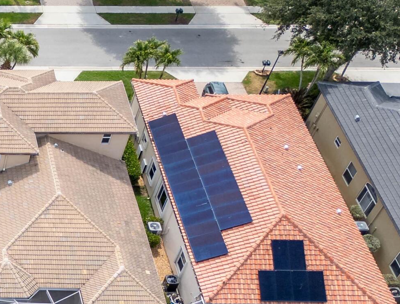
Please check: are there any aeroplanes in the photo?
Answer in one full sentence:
No, no aeroplane is visible in the scene.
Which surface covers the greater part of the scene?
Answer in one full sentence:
The largest share of the image is taken up by buildings.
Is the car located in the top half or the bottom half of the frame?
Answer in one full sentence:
It is in the top half that the car appears.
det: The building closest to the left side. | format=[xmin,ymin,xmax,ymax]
[0,67,167,304]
